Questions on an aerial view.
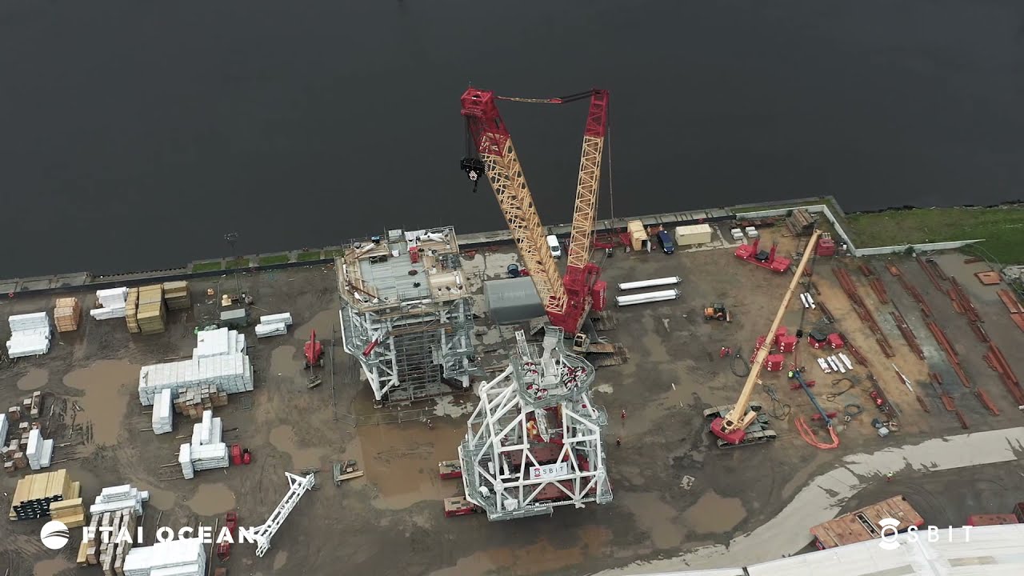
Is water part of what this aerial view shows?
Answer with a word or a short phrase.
Yes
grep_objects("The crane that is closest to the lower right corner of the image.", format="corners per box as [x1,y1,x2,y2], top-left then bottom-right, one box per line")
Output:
[703,223,825,450]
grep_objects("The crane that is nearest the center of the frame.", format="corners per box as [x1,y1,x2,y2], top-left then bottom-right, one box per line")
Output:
[461,80,624,358]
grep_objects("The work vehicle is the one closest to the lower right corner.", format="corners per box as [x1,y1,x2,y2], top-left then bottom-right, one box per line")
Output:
[702,298,738,320]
